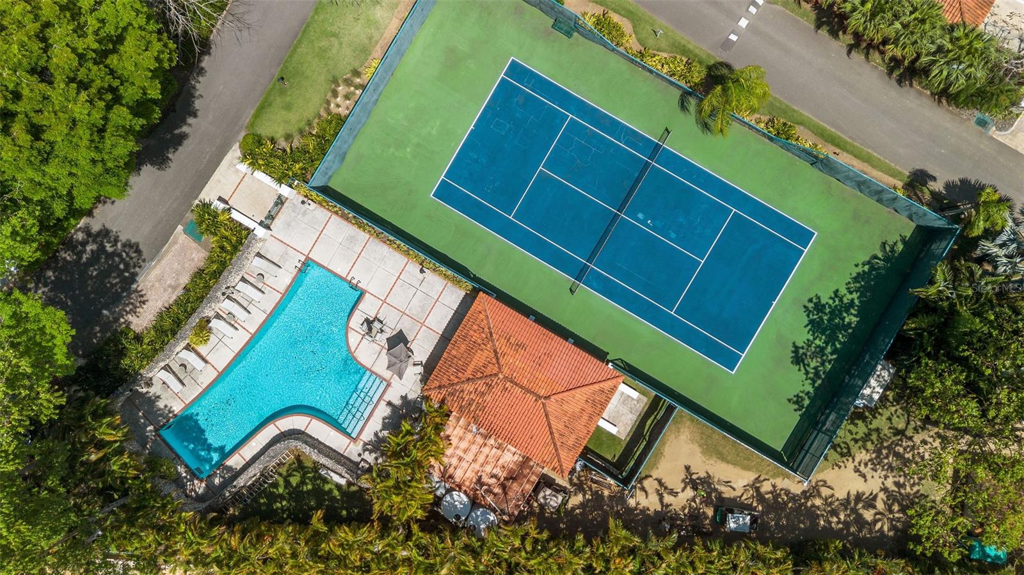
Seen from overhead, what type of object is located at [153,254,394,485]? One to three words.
swimming pool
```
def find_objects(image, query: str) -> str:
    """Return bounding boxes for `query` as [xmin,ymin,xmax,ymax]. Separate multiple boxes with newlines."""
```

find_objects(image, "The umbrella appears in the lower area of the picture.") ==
[387,343,421,380]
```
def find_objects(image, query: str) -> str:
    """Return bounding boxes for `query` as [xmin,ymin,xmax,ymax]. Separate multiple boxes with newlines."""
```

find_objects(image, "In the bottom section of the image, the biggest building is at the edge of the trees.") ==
[421,291,624,524]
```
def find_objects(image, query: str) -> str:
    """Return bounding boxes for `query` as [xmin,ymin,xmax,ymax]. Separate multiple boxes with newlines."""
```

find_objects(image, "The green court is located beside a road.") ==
[324,0,929,467]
